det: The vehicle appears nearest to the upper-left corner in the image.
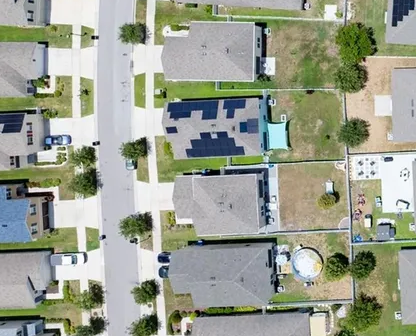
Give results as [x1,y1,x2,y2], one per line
[47,134,73,146]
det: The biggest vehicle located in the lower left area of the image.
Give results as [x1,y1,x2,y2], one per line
[51,253,89,267]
